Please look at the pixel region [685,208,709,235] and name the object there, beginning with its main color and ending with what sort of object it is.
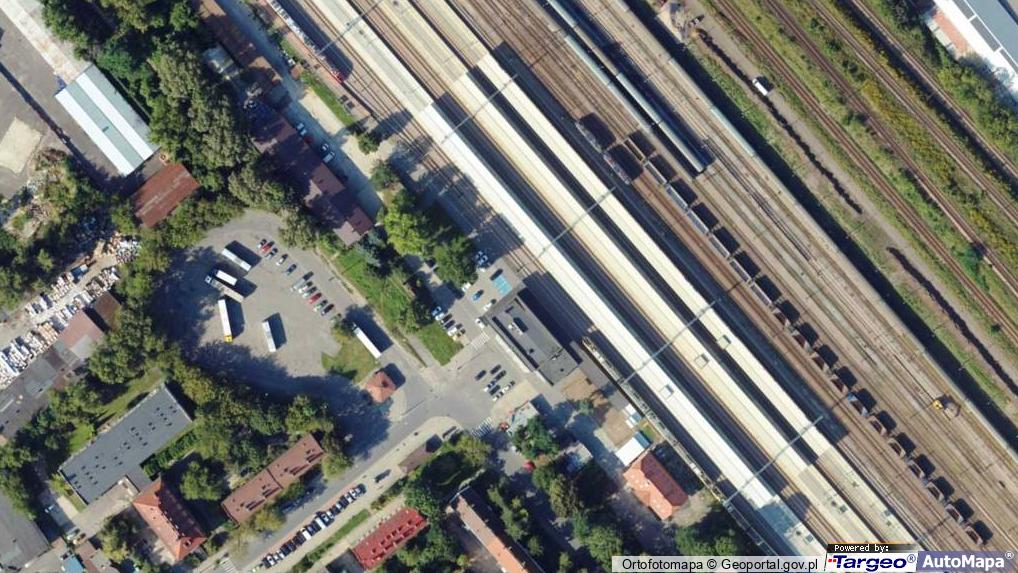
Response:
gray rail car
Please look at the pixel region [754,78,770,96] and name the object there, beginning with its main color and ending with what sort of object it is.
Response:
white vehicle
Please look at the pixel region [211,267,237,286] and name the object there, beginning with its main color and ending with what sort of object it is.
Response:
white vehicle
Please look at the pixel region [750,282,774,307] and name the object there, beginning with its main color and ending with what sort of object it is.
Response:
gray rail car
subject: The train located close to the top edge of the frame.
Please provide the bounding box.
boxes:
[267,0,348,85]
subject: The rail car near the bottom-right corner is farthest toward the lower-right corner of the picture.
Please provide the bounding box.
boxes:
[964,522,985,546]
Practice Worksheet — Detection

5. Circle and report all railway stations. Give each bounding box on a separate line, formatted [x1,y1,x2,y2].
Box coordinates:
[486,293,579,389]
